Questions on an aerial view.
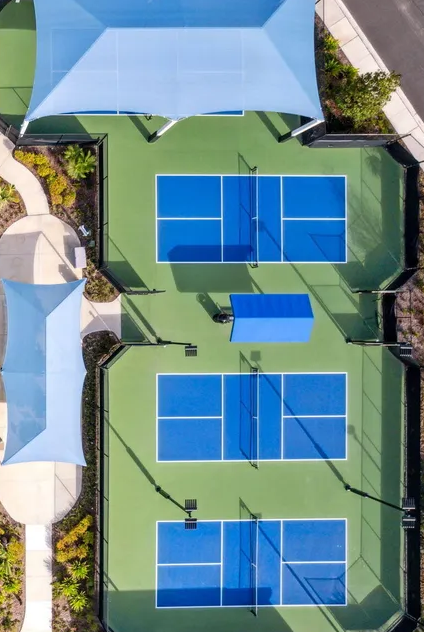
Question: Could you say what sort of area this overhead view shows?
sports ground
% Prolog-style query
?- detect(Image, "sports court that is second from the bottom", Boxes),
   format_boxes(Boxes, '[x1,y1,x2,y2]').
[106,317,404,489]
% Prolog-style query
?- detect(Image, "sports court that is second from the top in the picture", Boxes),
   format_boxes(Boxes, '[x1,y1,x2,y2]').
[104,146,403,317]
